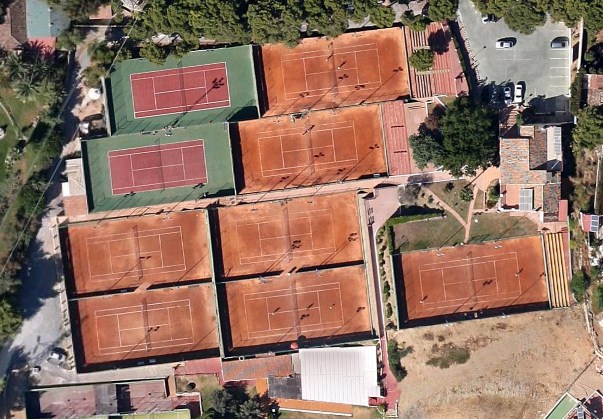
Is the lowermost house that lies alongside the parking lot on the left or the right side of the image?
right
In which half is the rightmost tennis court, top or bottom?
bottom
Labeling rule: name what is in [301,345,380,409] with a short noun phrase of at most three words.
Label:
building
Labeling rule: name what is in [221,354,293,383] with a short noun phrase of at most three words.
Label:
building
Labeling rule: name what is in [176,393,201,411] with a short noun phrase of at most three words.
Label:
shed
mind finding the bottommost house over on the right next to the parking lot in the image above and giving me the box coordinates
[498,125,568,222]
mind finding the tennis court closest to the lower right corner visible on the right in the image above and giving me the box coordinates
[393,236,549,329]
